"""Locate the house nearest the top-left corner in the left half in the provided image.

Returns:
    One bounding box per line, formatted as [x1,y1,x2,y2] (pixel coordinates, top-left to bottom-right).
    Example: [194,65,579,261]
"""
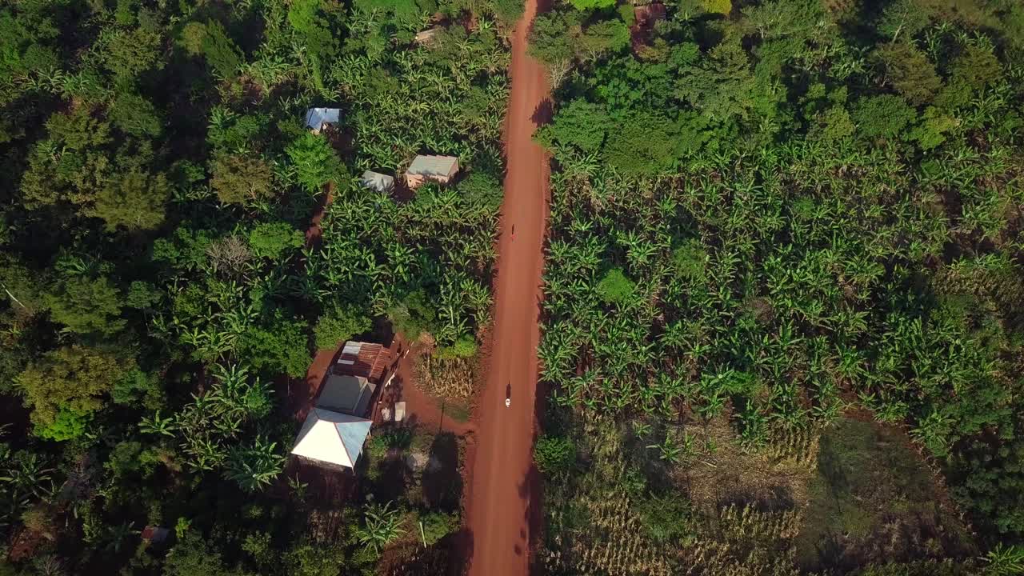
[306,108,340,136]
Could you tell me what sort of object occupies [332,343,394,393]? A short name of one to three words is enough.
house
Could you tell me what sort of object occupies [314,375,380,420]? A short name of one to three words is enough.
house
